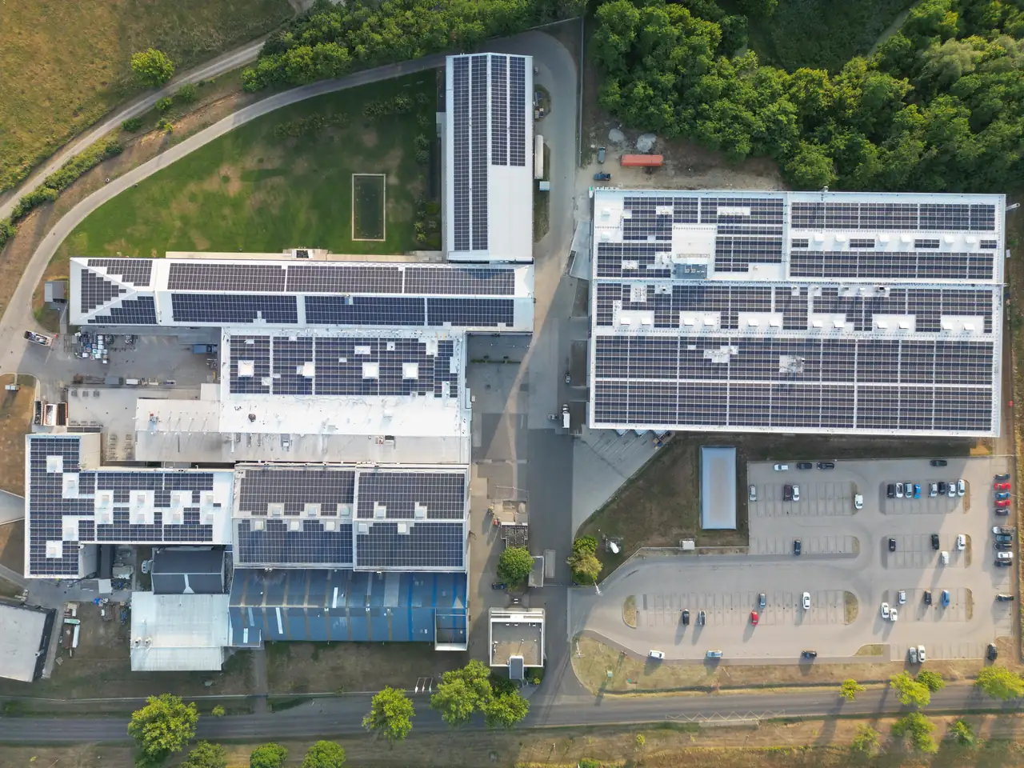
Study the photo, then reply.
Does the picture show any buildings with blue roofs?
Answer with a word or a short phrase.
Yes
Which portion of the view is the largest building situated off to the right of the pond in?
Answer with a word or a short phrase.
right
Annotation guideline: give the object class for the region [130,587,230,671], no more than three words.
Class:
shed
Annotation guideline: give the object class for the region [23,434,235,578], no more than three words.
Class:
building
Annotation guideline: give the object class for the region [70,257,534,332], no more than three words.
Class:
building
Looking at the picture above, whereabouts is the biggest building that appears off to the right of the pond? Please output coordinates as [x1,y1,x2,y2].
[586,188,1007,443]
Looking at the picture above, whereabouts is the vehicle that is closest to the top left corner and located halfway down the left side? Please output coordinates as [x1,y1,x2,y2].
[22,330,53,347]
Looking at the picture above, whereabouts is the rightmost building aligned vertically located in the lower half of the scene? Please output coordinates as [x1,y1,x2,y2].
[698,447,736,530]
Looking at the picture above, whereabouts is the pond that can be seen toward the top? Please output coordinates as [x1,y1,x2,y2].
[352,173,386,241]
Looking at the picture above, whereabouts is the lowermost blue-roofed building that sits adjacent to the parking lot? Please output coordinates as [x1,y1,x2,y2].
[228,570,470,646]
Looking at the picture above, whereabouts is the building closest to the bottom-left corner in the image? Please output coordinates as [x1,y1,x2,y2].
[0,596,56,681]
